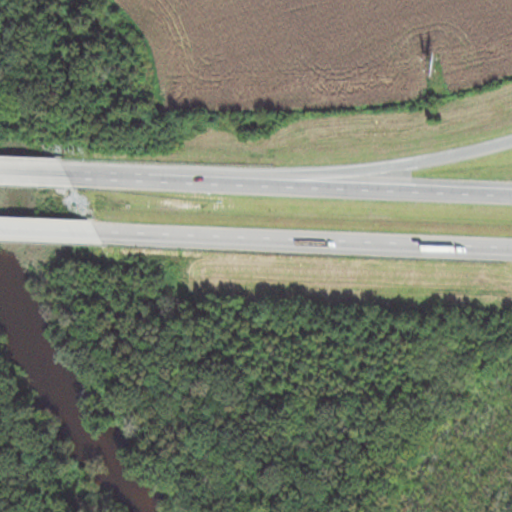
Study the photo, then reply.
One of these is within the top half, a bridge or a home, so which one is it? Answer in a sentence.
Visible within the top half is a bridge.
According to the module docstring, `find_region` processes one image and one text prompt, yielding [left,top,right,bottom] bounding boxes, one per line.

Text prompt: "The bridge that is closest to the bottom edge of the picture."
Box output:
[0,216,104,245]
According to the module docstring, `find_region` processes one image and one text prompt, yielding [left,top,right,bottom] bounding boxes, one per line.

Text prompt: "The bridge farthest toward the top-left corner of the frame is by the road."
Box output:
[0,156,76,188]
